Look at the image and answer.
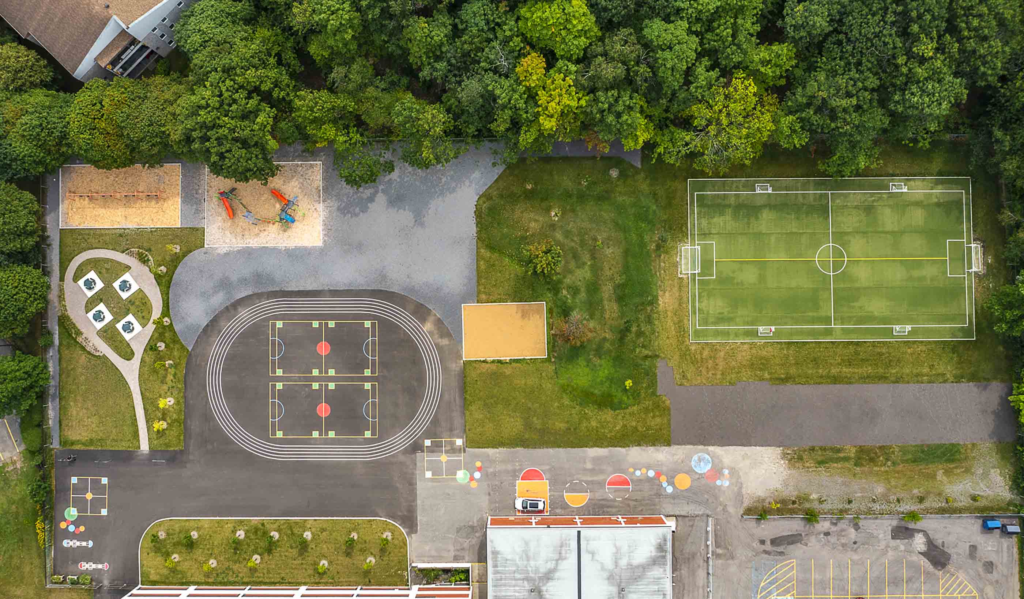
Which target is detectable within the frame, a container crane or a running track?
running track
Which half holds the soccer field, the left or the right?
right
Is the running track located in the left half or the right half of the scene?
left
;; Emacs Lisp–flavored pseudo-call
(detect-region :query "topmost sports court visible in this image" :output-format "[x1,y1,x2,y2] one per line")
[269,321,378,376]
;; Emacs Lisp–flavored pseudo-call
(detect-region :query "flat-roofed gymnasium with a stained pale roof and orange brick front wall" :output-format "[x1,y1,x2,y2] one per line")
[486,514,680,599]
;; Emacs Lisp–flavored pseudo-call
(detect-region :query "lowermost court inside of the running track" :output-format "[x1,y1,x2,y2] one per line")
[269,383,378,438]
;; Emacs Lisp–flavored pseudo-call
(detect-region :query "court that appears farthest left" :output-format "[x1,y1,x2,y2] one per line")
[64,477,108,521]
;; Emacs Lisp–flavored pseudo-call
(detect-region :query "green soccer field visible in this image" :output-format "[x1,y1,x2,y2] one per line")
[688,177,976,342]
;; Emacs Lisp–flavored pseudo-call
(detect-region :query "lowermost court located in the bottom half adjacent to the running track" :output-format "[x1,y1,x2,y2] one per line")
[424,439,470,483]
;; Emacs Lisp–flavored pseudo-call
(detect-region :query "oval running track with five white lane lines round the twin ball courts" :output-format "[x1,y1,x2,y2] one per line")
[206,297,442,461]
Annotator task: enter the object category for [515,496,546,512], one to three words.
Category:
car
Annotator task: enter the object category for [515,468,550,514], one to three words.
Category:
basketball court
